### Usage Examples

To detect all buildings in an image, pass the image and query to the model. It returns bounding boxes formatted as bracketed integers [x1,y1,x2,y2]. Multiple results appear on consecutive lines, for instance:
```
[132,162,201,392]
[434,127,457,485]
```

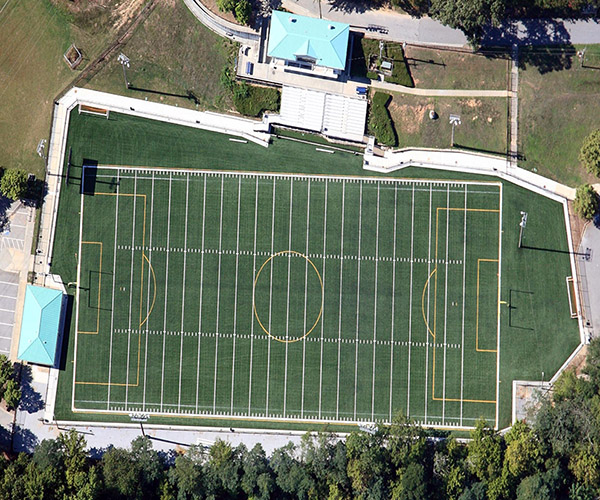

[18,285,63,368]
[267,10,350,81]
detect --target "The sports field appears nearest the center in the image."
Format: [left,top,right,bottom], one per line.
[50,105,582,436]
